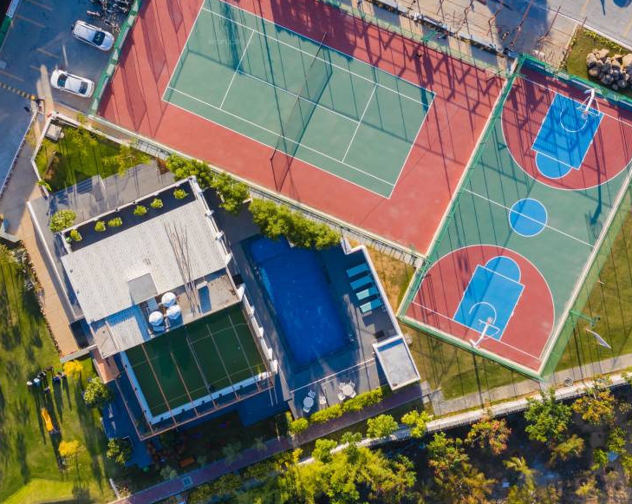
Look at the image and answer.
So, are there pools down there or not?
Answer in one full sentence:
Yes, there is a pool in the image.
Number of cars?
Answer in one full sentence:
The photo contains 2 cars.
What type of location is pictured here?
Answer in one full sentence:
The area seen from above is a sports ground.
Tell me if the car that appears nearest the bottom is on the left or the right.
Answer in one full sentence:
The car that appears nearest the bottom sits on the left side.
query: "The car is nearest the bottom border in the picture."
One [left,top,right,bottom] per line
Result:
[49,69,98,99]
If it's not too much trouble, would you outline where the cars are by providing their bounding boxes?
[69,19,118,53]
[49,69,98,99]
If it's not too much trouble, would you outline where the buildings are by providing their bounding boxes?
[370,331,421,390]
[60,176,279,436]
